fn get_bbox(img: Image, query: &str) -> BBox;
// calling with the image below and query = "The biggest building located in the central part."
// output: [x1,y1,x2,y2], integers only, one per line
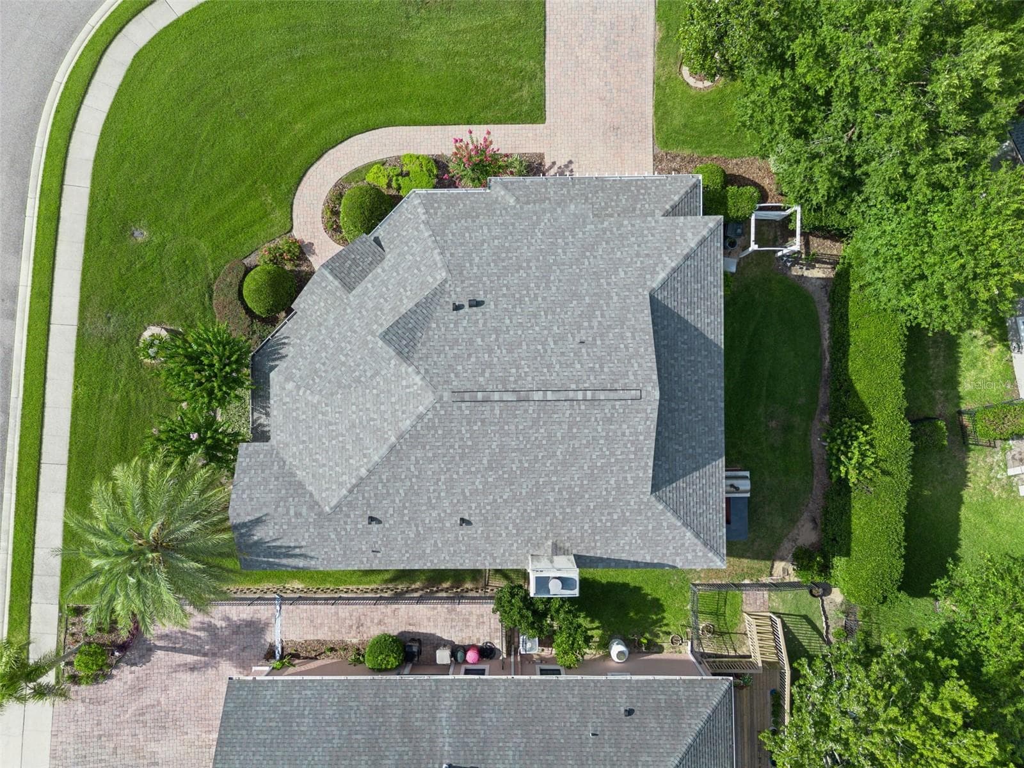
[229,172,727,597]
